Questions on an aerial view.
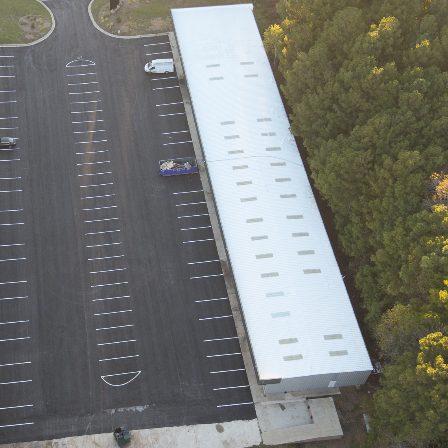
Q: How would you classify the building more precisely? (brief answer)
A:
warehouse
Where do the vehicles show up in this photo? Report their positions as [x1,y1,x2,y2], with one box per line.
[144,59,174,76]
[0,137,16,147]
